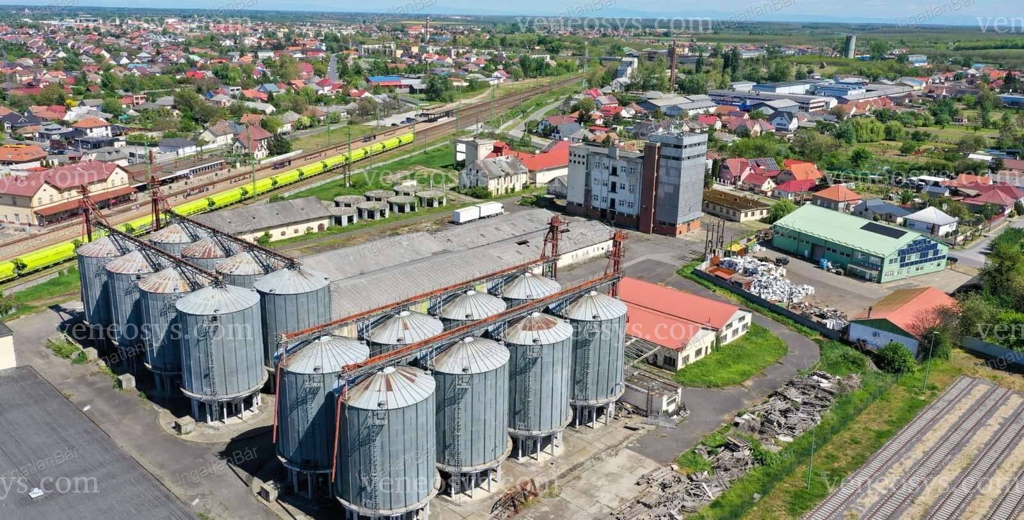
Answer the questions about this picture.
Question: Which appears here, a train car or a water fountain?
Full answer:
Visible in the photo is a train car.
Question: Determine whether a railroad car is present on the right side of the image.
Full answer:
No, no railroad car appears on the right side of the image.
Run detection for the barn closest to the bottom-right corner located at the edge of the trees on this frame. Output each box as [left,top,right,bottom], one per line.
[846,285,941,352]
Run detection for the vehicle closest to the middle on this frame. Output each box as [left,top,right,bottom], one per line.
[451,202,506,224]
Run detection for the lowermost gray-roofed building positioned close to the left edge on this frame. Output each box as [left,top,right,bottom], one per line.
[0,364,200,520]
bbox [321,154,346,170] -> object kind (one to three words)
rail car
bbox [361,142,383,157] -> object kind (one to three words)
rail car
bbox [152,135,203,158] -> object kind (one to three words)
house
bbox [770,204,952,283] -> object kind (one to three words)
building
